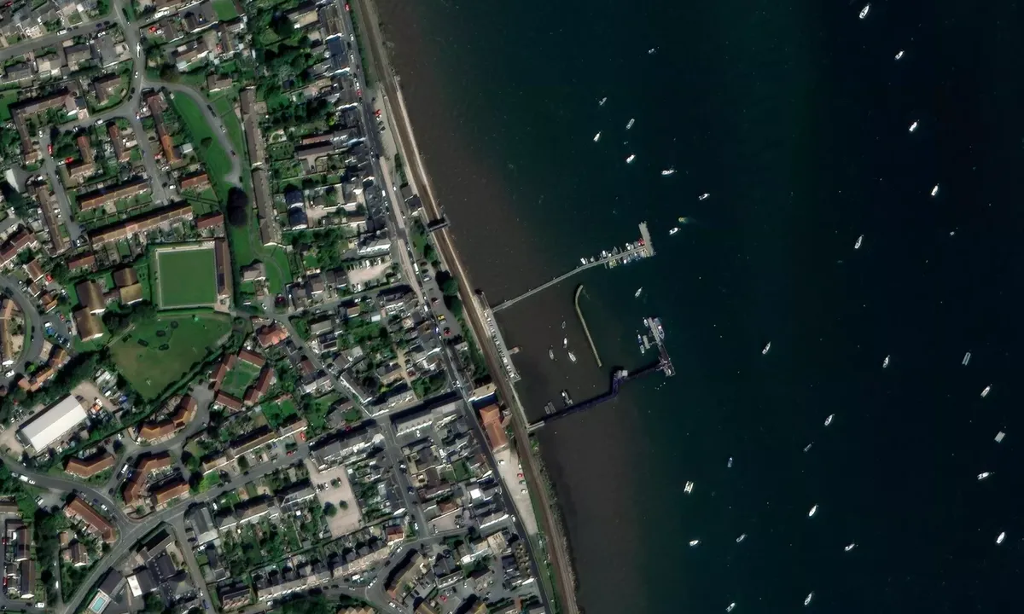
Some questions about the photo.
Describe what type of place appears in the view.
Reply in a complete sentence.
This image shows a residential area.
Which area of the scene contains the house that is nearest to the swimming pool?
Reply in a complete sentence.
The house that is nearest to the swimming pool appears toward the bottom left of the photo.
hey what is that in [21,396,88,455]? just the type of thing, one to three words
building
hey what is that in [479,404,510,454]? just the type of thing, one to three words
building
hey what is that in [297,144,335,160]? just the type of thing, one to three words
house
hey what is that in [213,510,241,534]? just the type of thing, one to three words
house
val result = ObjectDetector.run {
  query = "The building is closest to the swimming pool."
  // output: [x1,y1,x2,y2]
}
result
[98,570,126,603]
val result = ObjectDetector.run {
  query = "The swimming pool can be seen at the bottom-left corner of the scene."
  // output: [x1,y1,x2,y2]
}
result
[88,592,110,614]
